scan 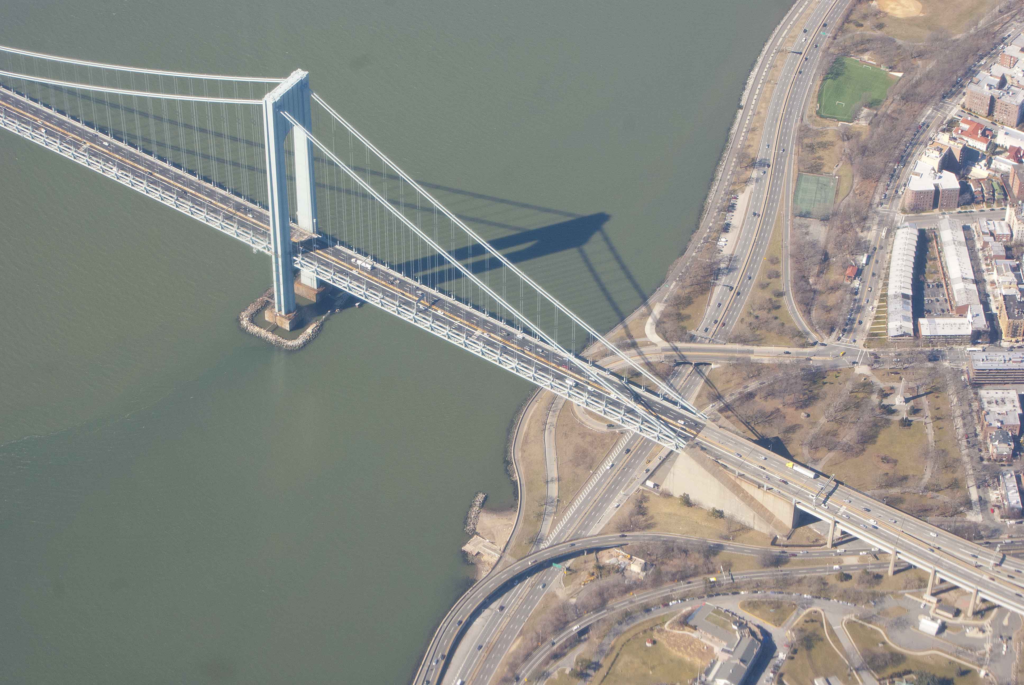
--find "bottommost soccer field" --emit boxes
[816,56,897,122]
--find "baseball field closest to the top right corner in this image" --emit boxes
[871,0,996,30]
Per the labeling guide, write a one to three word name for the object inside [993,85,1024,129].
building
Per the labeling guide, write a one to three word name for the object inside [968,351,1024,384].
building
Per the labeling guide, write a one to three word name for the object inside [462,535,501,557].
pier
